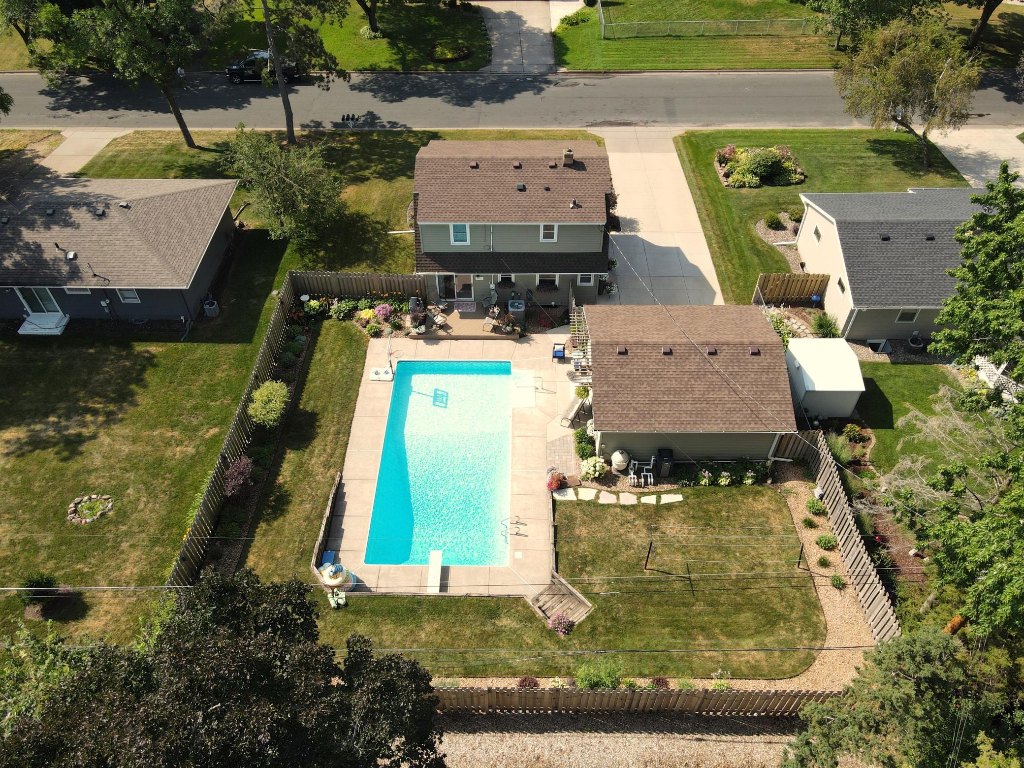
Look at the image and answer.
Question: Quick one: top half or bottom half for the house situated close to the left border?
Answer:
top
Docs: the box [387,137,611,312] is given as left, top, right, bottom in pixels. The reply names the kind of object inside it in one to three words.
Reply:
house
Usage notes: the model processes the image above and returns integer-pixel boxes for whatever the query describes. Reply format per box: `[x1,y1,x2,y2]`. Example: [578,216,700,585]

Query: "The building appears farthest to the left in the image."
[0,178,244,340]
